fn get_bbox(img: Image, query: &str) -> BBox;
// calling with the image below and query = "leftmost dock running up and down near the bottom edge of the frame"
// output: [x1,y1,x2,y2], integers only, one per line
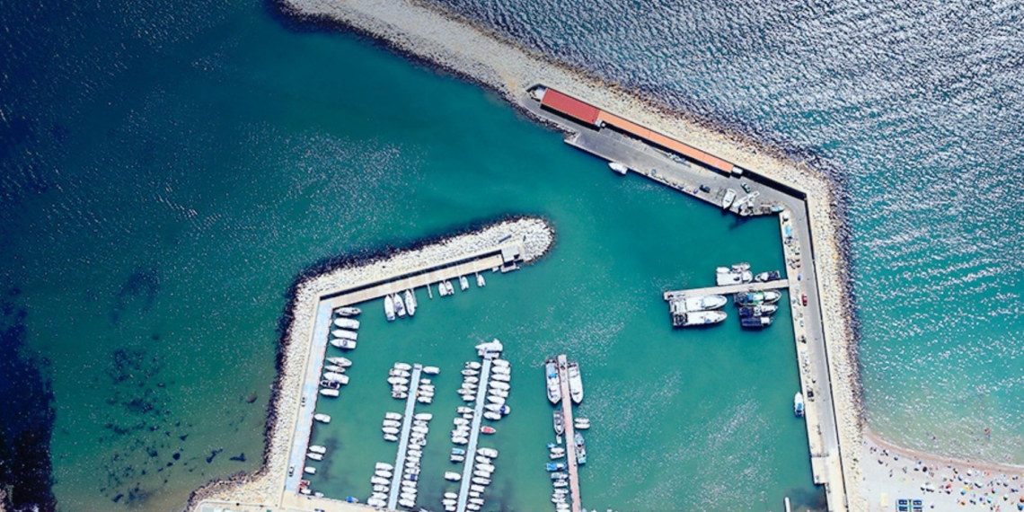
[388,369,420,512]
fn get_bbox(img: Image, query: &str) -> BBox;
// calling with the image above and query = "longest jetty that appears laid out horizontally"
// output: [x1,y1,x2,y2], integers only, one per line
[664,279,789,300]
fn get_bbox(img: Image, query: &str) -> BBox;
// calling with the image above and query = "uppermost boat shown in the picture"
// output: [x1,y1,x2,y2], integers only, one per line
[609,163,628,175]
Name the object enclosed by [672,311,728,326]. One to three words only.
boat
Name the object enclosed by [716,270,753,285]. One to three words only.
ship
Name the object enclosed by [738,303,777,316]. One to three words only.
boat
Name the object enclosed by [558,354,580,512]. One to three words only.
pier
